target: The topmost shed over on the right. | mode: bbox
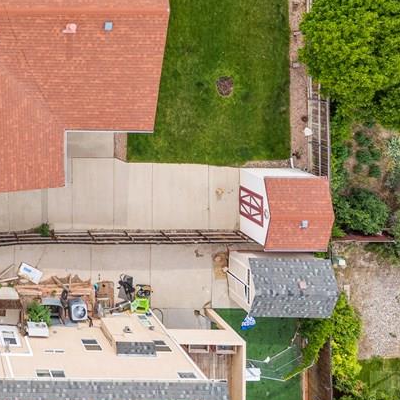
[240,171,338,252]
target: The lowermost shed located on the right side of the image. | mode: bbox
[229,247,340,318]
